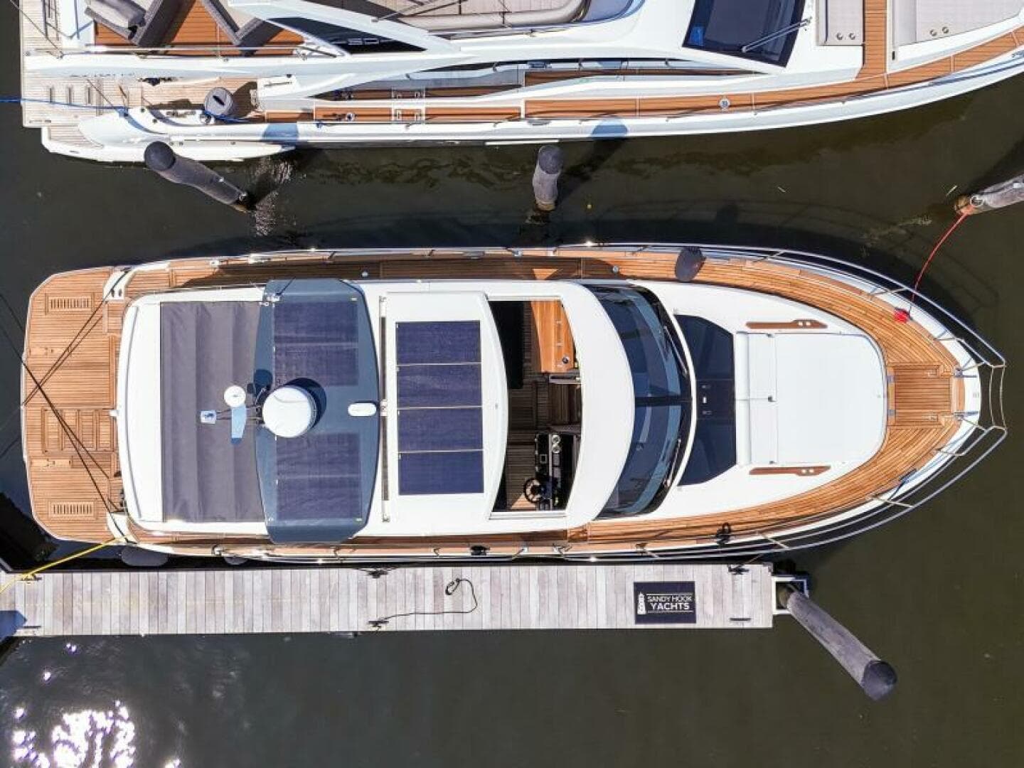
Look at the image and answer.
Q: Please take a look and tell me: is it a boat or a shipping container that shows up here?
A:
boat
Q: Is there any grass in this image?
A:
No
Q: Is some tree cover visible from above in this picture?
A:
No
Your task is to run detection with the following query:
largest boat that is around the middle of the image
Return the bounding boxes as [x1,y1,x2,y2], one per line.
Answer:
[23,242,1007,566]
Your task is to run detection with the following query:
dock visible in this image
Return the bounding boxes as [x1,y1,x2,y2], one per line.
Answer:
[0,489,810,651]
